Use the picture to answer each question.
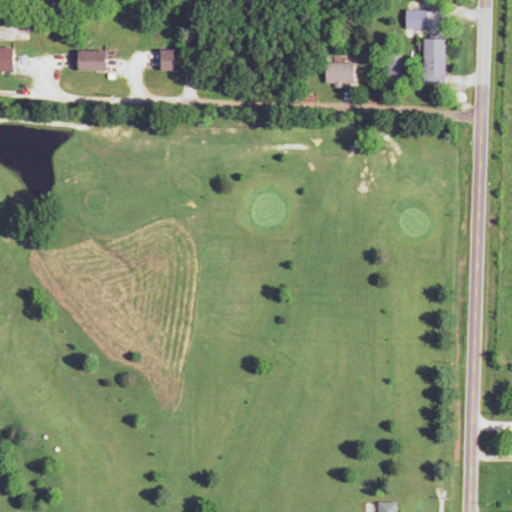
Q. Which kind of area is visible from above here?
golf course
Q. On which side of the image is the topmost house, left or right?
right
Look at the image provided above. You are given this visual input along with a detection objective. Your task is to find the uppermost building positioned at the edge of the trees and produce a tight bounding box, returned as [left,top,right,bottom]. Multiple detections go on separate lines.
[406,10,438,30]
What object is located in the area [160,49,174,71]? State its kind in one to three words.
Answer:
house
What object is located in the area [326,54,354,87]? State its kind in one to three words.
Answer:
house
